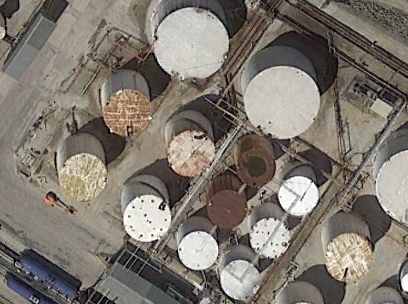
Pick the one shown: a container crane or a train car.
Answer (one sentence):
There is a train car in the scene.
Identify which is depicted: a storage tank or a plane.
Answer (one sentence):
Of the two, only a storage tank appears.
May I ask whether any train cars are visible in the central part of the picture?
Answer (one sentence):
No, I see no train car in the central part of the picture.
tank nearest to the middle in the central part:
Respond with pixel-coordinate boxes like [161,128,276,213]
[163,109,216,177]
